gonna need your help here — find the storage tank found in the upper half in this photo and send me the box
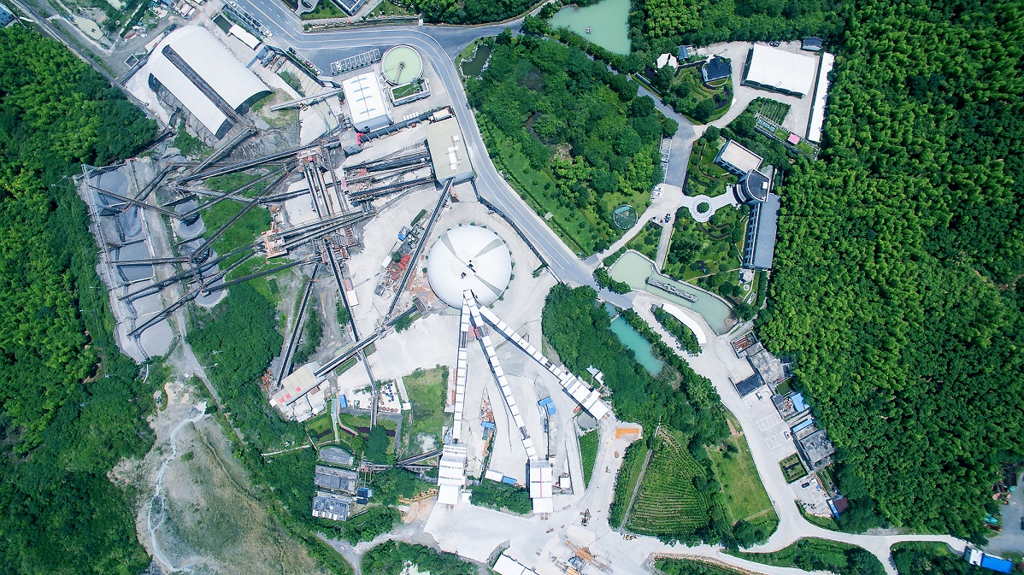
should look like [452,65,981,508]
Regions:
[380,41,424,85]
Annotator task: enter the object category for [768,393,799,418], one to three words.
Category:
house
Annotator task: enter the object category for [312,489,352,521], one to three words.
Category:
shed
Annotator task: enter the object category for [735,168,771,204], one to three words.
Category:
building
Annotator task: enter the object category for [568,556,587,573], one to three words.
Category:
vehicle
